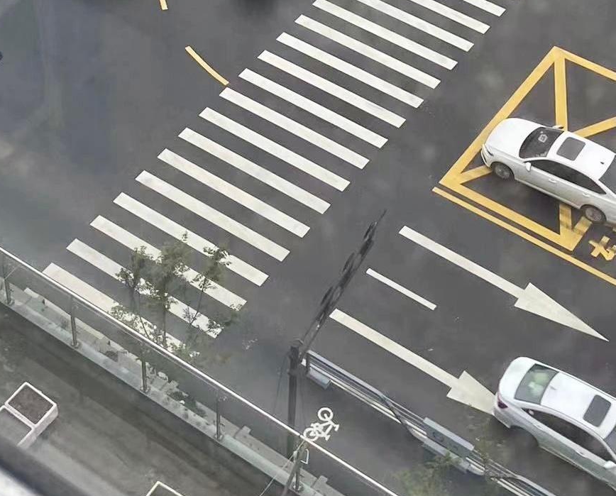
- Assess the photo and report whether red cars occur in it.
No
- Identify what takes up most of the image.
paved ground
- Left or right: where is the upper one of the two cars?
right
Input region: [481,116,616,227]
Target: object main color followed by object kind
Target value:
white car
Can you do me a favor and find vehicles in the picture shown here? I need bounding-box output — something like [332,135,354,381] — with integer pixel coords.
[481,116,616,227]
[494,352,616,488]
